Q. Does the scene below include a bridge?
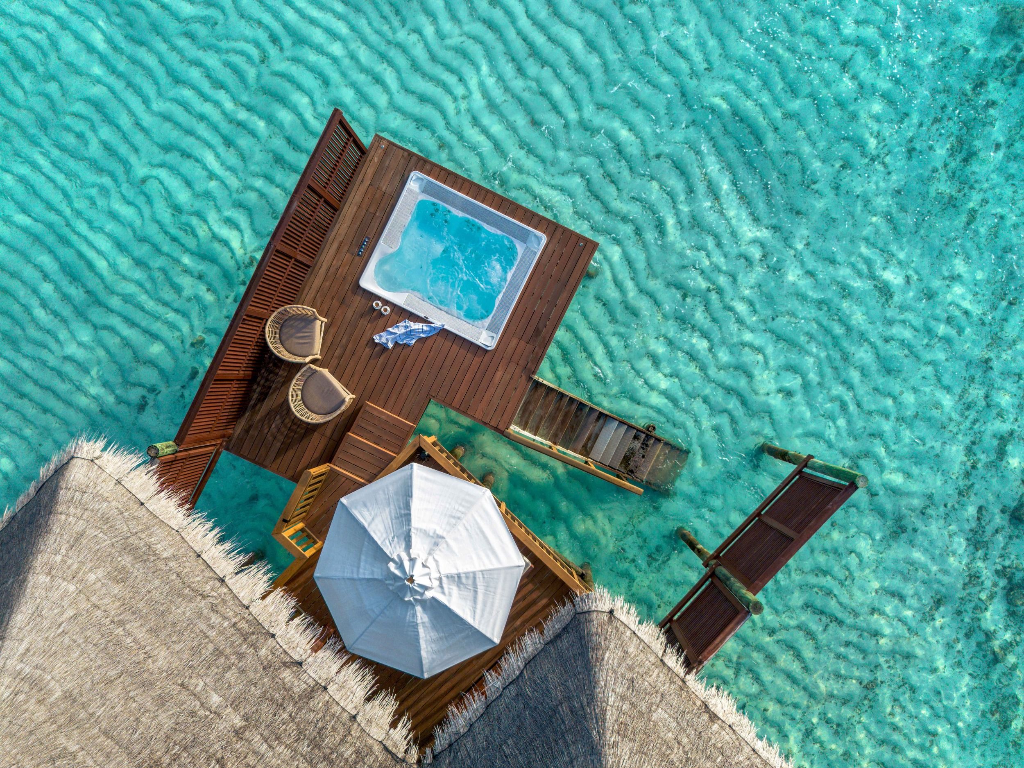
No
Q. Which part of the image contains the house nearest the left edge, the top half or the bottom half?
bottom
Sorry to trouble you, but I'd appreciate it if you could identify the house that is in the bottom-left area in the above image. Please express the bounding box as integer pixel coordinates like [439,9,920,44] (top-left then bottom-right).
[0,423,428,768]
